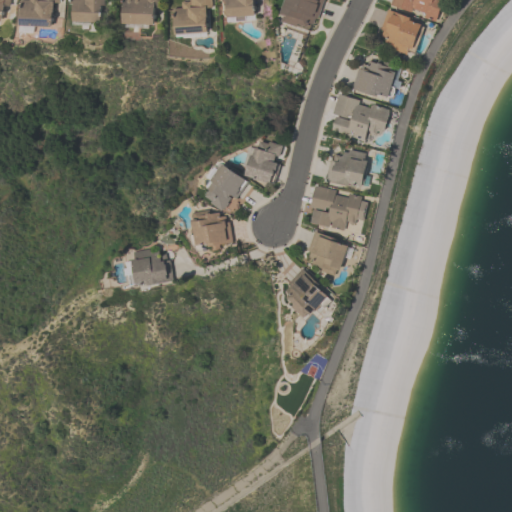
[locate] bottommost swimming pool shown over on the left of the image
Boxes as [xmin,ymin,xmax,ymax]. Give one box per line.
[114,263,128,284]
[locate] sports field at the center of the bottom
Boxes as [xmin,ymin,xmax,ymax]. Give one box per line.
[277,374,314,416]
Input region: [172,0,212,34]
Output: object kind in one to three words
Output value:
house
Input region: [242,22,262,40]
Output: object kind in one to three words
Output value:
swimming pool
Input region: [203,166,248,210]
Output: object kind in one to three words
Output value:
house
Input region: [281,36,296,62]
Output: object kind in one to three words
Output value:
swimming pool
